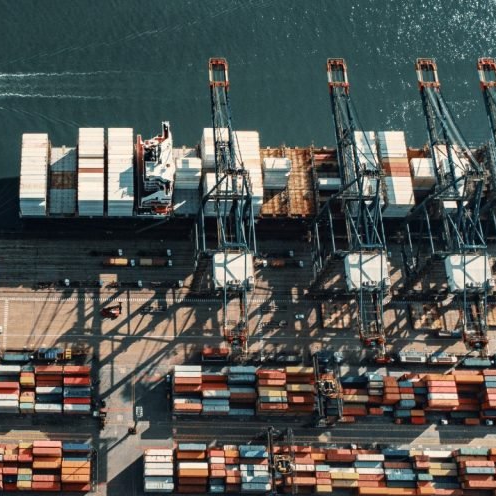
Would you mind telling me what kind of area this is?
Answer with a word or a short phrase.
port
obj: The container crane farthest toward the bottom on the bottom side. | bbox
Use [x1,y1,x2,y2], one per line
[256,433,302,496]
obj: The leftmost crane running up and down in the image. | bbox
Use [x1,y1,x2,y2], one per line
[182,58,258,353]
